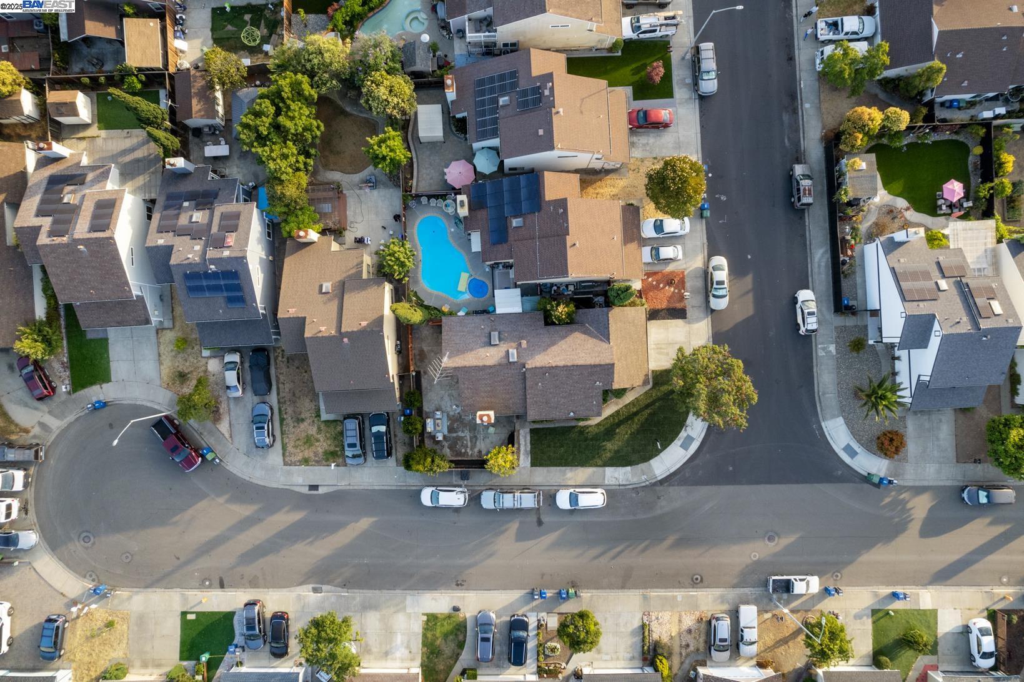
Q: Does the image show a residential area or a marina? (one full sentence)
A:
This looks like a residential area.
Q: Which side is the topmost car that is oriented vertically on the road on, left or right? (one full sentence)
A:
You can find the topmost car that is oriented vertically on the road on the right side of the picture.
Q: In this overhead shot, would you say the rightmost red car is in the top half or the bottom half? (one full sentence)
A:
Seen from above, the rightmost red car lies in the top half of the view.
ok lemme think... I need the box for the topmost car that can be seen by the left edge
[17,356,57,403]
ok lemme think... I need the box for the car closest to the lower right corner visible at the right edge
[967,616,998,670]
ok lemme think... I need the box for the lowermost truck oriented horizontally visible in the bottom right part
[766,572,820,597]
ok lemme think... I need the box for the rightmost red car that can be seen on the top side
[629,106,676,130]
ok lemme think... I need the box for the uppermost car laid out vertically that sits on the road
[694,40,720,97]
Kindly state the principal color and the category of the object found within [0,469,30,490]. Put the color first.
white car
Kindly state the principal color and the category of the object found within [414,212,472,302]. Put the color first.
blue swimming pool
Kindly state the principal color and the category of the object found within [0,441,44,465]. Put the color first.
gray truck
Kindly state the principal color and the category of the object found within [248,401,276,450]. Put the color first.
blue car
